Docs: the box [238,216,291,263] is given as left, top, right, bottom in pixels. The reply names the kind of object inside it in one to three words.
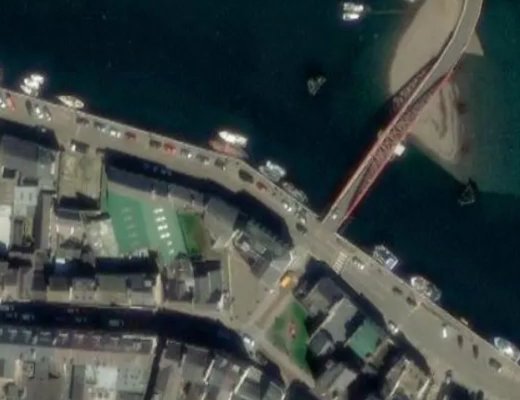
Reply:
building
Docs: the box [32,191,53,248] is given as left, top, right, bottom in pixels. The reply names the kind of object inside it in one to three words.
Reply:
house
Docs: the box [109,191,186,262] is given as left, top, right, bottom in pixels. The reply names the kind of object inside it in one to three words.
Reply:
sports court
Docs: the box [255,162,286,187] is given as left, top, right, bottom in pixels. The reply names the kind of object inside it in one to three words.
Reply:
boat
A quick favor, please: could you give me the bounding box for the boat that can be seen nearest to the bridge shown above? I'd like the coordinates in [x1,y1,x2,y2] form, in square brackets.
[279,183,309,207]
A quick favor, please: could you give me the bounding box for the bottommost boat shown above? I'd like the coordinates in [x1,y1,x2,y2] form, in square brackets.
[492,341,520,365]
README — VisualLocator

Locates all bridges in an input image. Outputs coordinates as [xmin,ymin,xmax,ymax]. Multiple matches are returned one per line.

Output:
[320,0,481,233]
